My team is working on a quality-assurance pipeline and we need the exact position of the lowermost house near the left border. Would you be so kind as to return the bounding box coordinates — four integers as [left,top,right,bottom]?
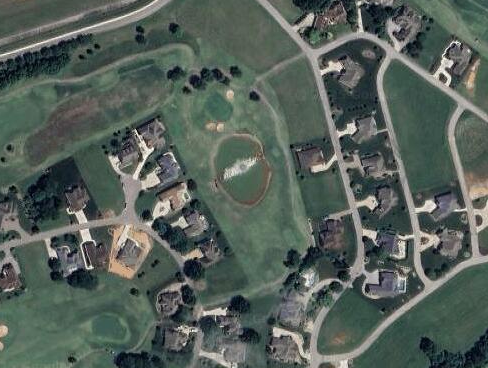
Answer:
[0,264,20,292]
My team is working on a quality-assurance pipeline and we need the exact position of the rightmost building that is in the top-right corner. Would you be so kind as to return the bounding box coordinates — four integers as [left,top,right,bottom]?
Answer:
[446,41,474,72]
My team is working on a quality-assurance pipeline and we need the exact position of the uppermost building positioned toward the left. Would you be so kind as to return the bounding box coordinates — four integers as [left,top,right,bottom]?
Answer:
[134,117,168,150]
